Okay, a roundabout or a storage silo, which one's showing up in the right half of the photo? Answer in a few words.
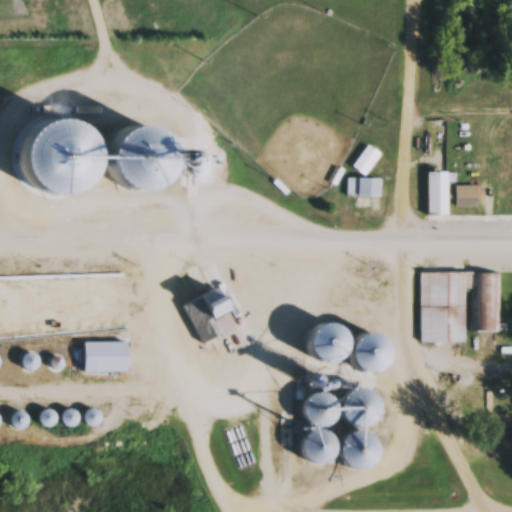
storage silo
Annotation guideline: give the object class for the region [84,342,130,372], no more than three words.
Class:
shed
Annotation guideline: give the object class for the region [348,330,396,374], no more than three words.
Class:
silo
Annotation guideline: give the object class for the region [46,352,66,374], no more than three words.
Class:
silo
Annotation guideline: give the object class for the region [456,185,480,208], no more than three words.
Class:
house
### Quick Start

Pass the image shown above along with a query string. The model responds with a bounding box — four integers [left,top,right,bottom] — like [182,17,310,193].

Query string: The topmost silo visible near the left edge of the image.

[14,113,109,201]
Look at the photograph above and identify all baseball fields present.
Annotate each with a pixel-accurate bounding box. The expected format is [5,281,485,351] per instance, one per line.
[172,0,400,201]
